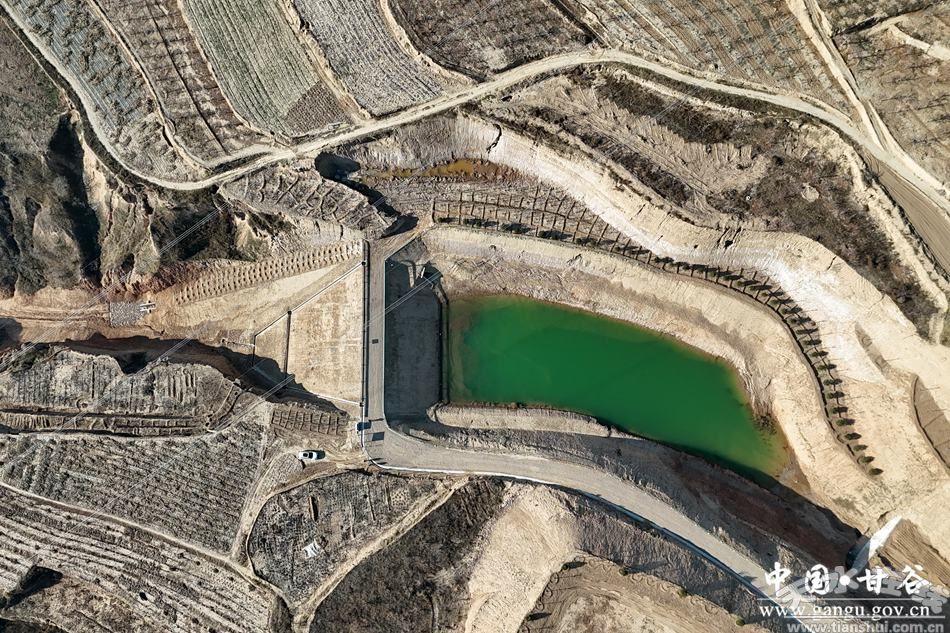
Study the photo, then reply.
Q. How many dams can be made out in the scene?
1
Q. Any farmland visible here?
Yes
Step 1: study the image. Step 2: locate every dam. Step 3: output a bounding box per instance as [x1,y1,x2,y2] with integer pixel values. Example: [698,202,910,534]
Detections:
[222,231,447,440]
